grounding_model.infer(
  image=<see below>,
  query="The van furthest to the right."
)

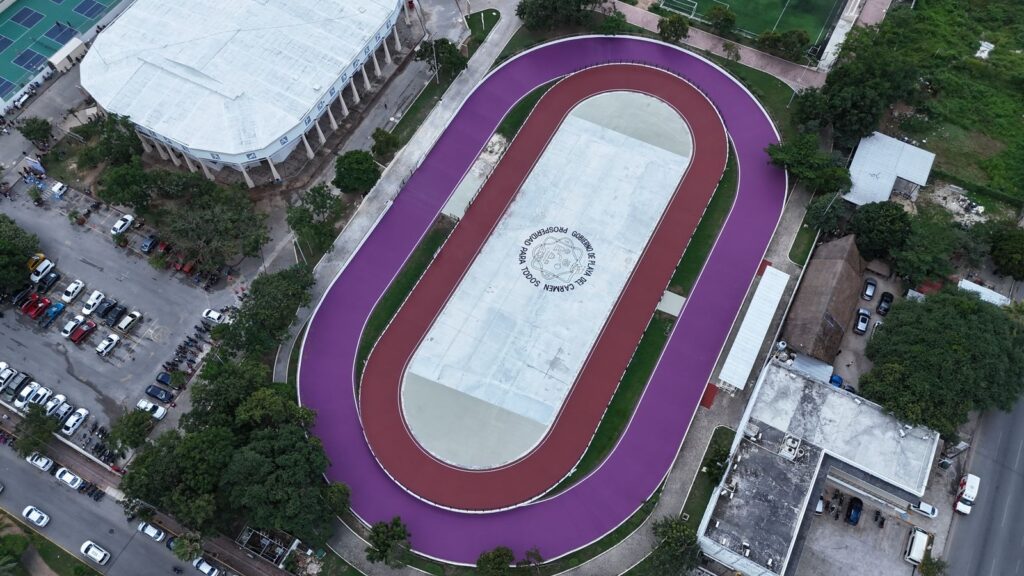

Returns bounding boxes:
[952,470,987,517]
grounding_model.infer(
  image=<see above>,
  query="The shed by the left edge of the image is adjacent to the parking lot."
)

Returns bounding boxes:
[50,39,90,80]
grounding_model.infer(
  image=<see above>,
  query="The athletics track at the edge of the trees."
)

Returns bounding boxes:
[296,32,788,568]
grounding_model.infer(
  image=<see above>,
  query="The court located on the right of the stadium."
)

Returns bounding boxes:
[399,89,693,469]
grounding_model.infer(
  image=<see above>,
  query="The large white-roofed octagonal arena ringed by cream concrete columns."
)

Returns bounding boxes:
[79,0,412,189]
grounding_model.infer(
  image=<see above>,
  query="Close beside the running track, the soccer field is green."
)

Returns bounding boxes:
[660,0,840,51]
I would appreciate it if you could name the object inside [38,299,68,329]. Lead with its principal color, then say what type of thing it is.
blue car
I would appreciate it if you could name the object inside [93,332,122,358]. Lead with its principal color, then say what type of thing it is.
white car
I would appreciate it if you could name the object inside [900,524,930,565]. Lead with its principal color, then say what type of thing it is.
white vehicle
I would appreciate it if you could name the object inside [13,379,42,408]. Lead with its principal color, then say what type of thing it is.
white car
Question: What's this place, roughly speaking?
sports ground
